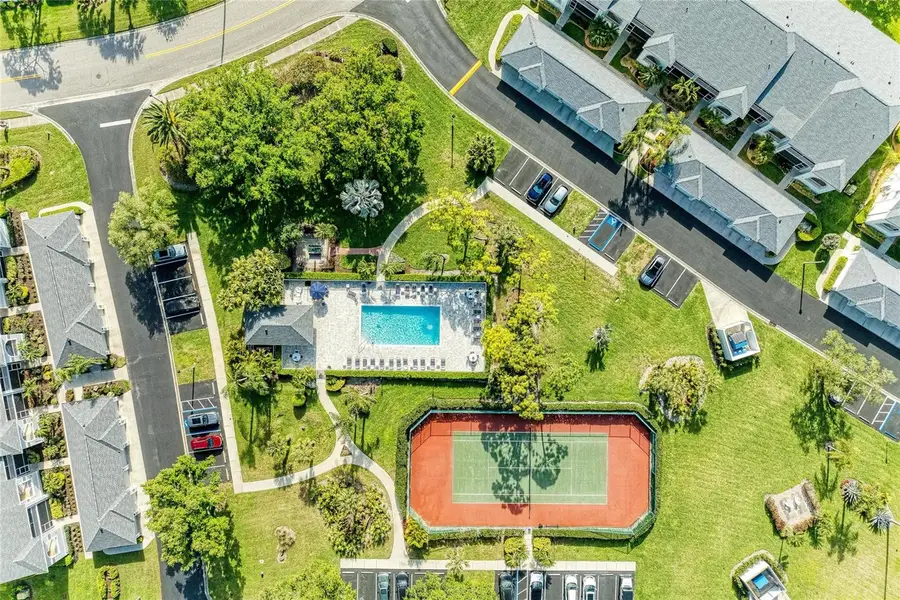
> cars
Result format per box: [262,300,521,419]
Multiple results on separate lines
[620,576,635,600]
[564,574,579,600]
[395,570,410,600]
[527,171,553,202]
[375,571,390,600]
[530,571,545,600]
[186,411,220,427]
[583,575,598,600]
[499,573,514,600]
[153,246,188,264]
[640,256,665,287]
[543,184,568,215]
[191,434,223,451]
[167,300,200,316]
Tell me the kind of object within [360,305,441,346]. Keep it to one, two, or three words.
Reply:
swimming pool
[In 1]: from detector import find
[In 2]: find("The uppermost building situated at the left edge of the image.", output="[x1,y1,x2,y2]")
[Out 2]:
[24,212,118,367]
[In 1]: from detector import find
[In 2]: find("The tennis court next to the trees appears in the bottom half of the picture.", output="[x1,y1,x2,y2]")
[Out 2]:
[412,411,650,527]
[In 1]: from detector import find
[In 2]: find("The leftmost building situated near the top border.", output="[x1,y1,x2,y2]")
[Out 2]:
[501,16,646,147]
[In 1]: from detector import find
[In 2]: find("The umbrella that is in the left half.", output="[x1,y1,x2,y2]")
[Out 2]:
[310,282,328,300]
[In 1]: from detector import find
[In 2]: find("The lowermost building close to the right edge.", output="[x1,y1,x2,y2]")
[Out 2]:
[829,250,900,347]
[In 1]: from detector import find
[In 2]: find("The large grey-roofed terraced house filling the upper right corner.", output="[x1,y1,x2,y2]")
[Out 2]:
[572,0,900,190]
